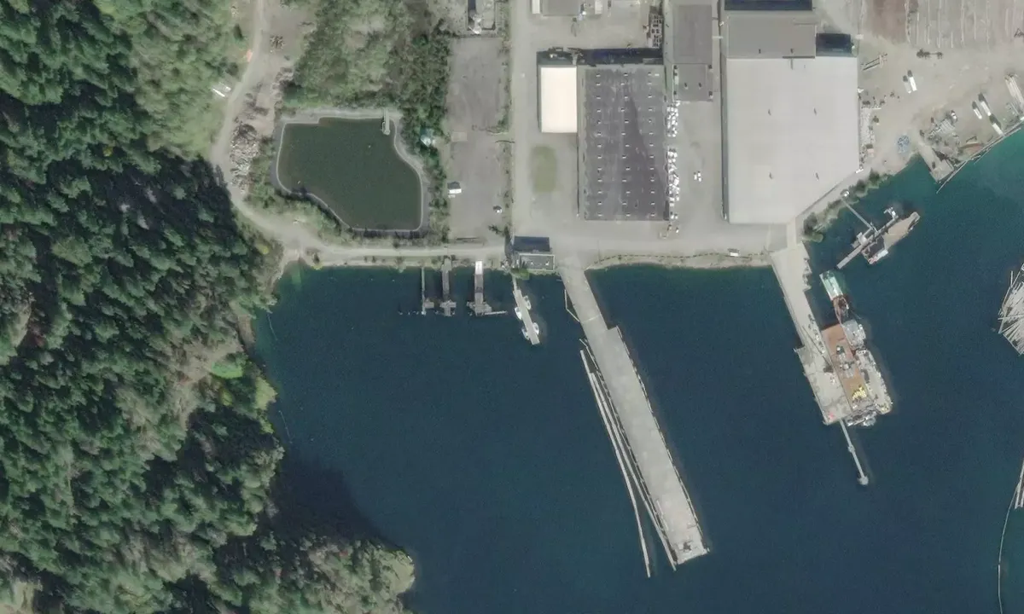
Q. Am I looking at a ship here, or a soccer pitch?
ship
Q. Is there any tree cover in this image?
Yes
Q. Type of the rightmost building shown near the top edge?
warehouse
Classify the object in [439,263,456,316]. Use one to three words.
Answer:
pier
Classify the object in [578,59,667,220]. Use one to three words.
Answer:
building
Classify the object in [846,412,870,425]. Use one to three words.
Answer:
boat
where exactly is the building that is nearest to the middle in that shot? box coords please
[516,247,554,271]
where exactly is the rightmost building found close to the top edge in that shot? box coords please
[722,13,859,224]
